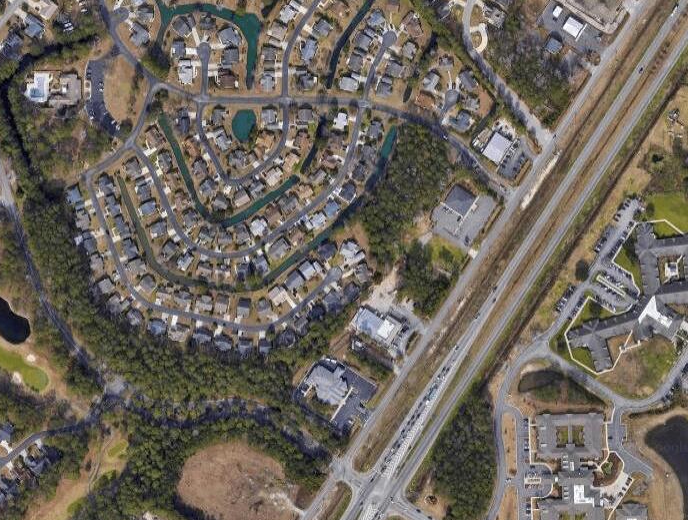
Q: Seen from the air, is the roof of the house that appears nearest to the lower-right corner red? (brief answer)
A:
No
